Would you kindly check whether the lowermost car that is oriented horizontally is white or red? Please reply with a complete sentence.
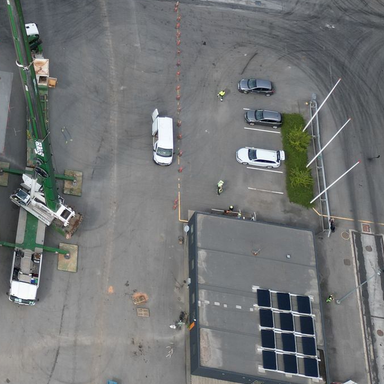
From above, the lowermost car that is oriented horizontally appears white.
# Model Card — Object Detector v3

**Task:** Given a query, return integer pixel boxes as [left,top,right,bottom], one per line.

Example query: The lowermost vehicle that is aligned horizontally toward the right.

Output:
[235,142,288,164]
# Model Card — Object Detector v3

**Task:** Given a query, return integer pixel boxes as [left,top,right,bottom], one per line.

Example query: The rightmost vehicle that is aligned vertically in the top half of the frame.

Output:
[151,107,174,168]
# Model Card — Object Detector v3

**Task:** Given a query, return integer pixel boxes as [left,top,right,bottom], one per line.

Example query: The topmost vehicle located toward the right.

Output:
[237,74,275,94]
